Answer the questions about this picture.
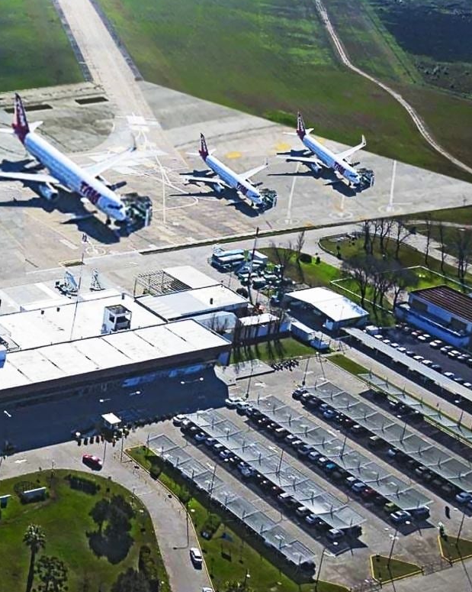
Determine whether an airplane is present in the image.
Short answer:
Yes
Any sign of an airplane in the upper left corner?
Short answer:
Yes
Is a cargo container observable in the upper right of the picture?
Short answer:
No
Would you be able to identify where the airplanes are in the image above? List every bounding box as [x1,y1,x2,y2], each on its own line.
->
[174,132,267,208]
[0,91,133,228]
[272,111,365,186]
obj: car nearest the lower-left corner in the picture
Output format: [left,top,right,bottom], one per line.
[83,455,101,468]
